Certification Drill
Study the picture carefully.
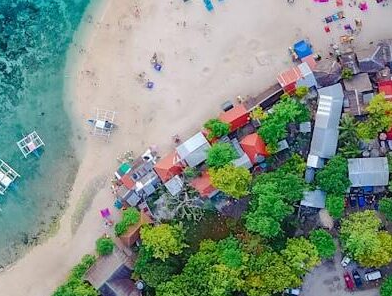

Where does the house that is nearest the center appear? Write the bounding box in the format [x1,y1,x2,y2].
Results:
[176,131,211,167]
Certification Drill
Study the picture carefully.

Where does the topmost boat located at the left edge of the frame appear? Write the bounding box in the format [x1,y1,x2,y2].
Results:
[16,130,47,160]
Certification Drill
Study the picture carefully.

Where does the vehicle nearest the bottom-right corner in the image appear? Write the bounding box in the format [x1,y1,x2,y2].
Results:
[365,270,385,283]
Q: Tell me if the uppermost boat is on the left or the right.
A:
left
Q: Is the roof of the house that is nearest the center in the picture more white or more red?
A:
white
